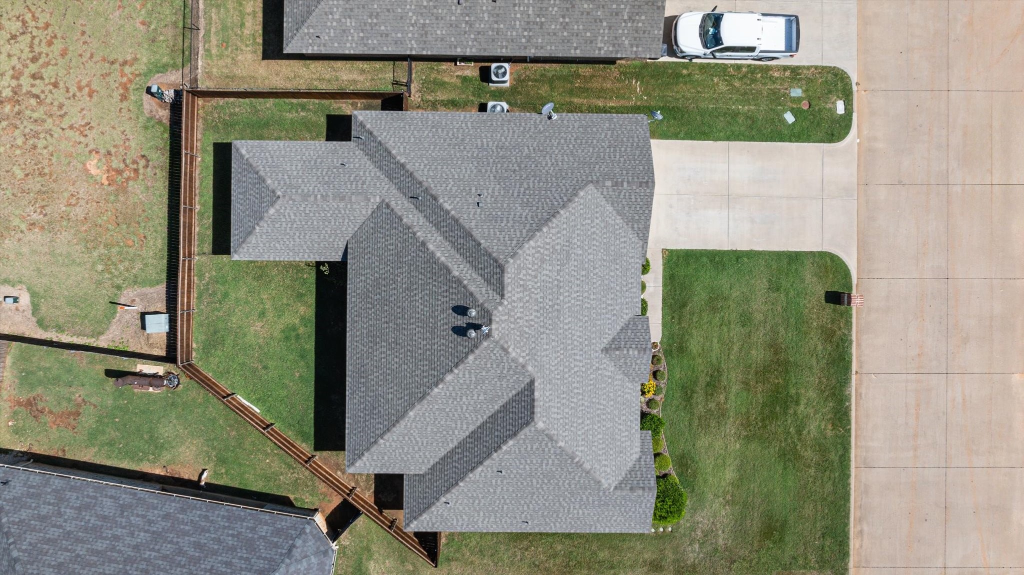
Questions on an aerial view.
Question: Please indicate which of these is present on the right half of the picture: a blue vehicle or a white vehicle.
white vehicle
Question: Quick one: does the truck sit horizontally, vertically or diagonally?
horizontally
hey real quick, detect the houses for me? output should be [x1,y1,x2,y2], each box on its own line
[0,459,343,575]
[230,111,657,533]
[283,0,667,59]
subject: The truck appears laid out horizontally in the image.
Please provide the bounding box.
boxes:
[671,6,803,63]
